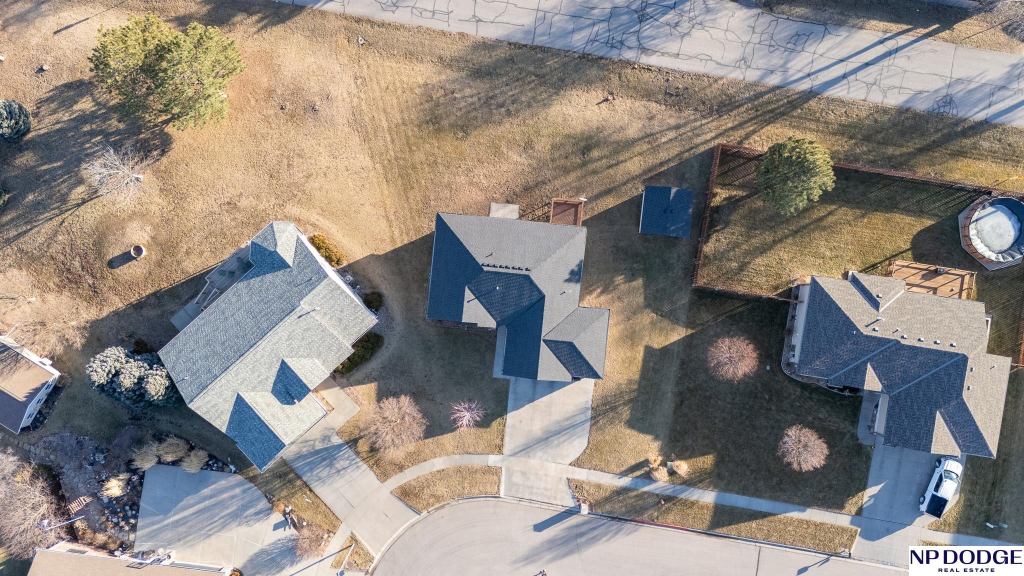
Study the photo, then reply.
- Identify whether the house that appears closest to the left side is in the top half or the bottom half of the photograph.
bottom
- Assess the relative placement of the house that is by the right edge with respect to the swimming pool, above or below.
below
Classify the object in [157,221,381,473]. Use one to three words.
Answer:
house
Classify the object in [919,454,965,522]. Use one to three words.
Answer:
truck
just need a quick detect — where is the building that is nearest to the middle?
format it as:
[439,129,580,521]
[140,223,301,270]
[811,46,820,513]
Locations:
[426,211,611,383]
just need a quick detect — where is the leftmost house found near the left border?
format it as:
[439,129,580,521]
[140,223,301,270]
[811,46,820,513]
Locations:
[0,332,64,435]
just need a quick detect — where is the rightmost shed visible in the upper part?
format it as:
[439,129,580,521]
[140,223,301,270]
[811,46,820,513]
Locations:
[638,185,695,238]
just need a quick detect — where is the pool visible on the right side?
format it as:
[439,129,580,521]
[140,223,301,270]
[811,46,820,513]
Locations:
[953,182,1024,271]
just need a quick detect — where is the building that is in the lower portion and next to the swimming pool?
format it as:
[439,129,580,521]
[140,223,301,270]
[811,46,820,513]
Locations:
[787,271,1013,459]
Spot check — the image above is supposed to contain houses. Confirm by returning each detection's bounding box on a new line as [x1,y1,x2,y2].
[0,332,64,435]
[787,271,1013,459]
[26,541,237,576]
[157,221,381,473]
[426,211,611,383]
